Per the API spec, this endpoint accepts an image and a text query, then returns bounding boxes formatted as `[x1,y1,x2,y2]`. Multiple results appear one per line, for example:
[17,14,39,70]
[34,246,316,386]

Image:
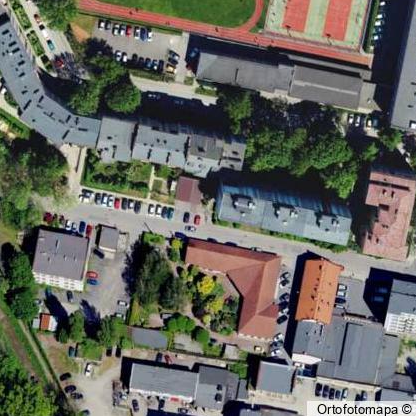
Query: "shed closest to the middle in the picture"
[174,175,202,204]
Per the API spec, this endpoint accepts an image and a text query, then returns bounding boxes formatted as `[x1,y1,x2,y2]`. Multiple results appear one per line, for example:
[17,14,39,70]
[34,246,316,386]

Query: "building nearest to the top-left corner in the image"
[98,116,138,166]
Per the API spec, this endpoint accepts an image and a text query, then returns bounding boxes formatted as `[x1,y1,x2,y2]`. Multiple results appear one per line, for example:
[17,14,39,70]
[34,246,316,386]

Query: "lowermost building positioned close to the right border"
[377,391,416,416]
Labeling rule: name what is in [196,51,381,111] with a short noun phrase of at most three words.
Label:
building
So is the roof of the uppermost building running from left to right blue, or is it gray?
gray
